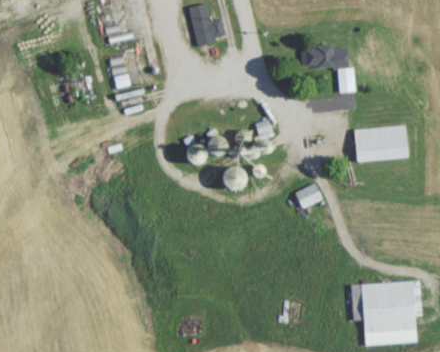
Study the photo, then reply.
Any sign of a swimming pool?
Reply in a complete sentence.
No, I can't see a single swimming pool in this photo.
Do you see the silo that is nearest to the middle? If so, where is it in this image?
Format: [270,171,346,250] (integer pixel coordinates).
[222,165,248,192]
